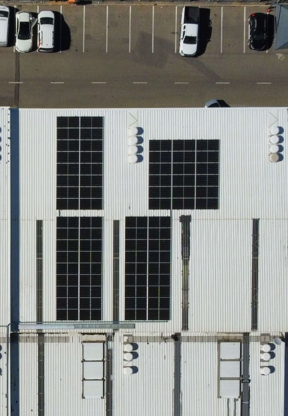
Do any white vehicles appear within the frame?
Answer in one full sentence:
Yes, the frame does contain a white vehicle.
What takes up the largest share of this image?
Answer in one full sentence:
What you mostly see from above here is buildings.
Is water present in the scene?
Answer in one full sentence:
No, no water is visible.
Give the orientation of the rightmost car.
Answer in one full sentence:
I'd say the rightmost car is aligned vertically in the picture.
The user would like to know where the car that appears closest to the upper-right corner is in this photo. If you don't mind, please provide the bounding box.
[248,10,270,56]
